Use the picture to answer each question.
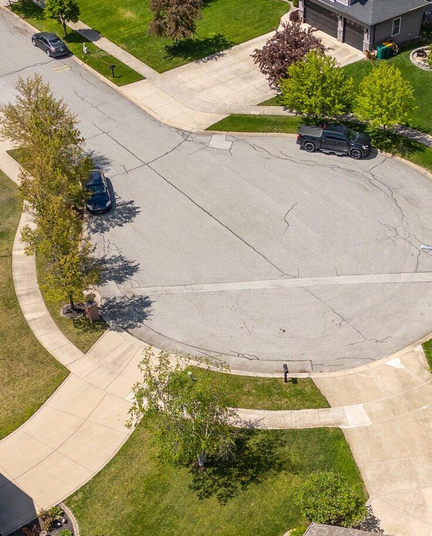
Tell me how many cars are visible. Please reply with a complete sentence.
I count 2 cars.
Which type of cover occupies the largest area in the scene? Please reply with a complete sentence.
Most of the picture is covered by paved ground.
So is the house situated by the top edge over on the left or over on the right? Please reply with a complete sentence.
The house situated by the top edge appears in the right half of the scene.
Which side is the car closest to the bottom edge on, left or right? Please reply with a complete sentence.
The car closest to the bottom edge sits on the left side.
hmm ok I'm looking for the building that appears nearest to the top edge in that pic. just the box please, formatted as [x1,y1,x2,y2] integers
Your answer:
[304,0,432,54]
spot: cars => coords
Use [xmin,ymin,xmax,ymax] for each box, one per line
[84,167,113,210]
[31,28,68,53]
